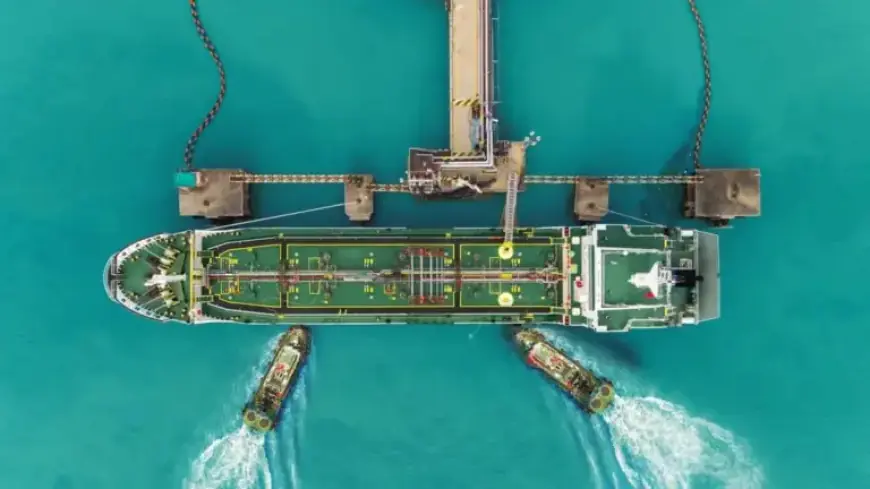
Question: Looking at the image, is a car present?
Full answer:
No, the scene contains no car.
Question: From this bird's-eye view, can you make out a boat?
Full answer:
Yes, this view includes a boat.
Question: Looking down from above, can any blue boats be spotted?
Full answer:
No, I find no blue boat anywhere in the image.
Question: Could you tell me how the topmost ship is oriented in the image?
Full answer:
From this overhead view, the topmost ship appears to run horizontally.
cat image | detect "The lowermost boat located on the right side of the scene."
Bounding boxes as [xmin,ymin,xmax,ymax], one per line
[516,329,615,418]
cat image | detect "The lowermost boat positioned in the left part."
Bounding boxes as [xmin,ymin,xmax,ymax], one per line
[243,325,310,430]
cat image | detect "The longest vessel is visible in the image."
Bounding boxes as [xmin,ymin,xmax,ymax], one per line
[104,223,725,332]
